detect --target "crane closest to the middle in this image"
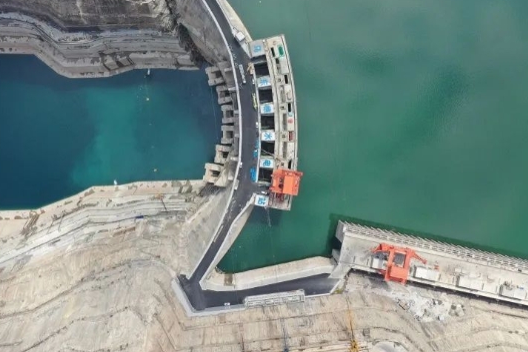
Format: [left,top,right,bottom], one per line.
[269,165,305,195]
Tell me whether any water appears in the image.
Yes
